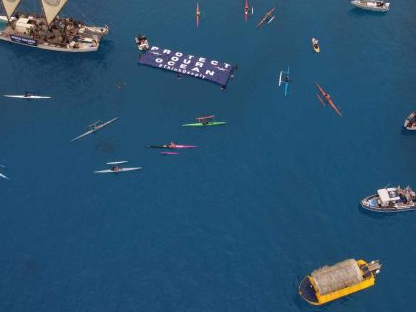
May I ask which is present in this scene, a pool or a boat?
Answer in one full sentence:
Looking from above, you can make out a boat.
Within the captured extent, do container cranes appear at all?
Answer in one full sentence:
No, there appears to be no container crane in this shot.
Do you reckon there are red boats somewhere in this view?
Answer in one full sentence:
Yes, the image includes a red boat.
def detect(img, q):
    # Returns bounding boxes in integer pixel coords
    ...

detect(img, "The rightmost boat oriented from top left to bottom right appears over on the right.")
[315,81,342,116]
